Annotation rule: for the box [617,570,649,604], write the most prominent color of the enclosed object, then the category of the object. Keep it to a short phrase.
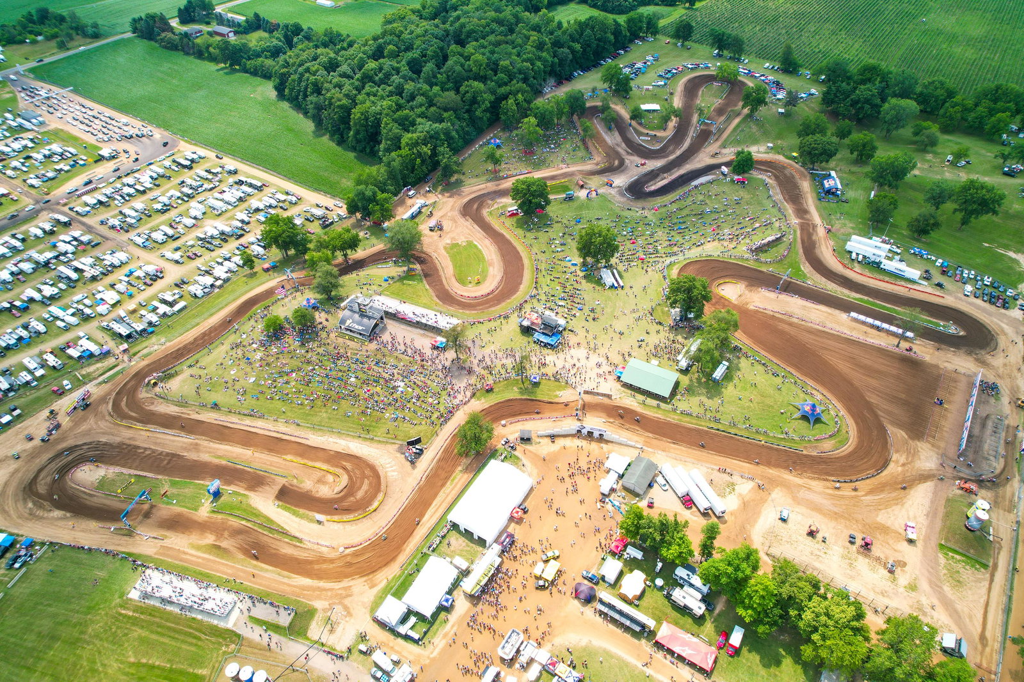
white tent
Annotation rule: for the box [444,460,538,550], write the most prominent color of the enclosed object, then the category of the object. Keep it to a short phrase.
white tent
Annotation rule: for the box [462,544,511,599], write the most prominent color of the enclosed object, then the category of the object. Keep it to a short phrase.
white trailer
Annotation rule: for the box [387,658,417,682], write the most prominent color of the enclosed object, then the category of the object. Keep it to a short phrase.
white truck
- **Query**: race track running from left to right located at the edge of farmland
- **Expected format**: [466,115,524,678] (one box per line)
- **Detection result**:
[28,70,995,580]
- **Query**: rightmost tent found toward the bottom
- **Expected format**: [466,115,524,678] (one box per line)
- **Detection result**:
[790,404,831,433]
